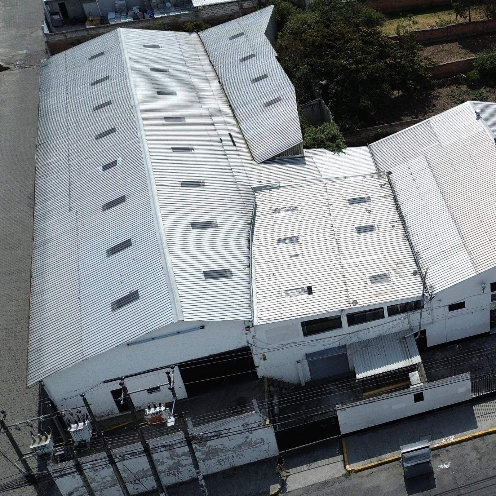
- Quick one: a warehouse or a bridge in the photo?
warehouse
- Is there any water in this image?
No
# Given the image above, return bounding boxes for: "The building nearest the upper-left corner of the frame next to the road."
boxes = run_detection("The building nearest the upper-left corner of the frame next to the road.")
[39,0,95,41]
